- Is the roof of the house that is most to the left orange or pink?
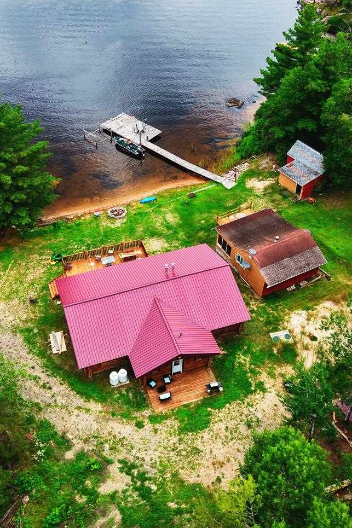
pink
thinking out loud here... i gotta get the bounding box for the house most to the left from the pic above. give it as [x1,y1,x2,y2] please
[49,239,251,413]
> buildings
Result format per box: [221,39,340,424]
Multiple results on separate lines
[278,145,324,197]
[49,239,251,413]
[212,205,326,299]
